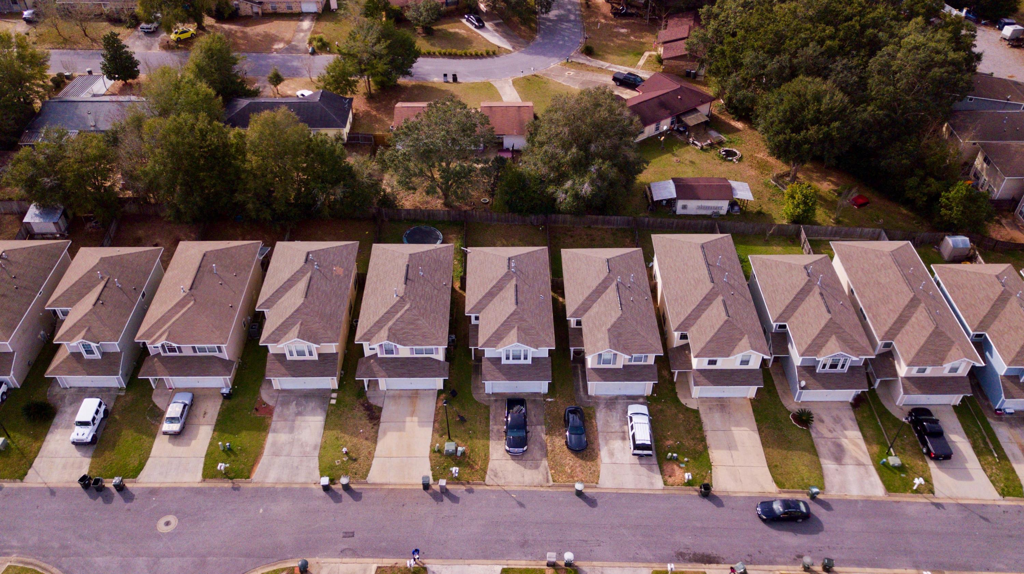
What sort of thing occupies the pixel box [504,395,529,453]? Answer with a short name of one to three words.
truck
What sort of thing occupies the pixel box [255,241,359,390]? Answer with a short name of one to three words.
house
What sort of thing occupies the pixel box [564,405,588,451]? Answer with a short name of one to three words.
car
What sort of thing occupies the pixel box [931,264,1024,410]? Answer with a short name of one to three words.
house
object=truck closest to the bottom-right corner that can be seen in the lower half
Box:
[910,402,960,459]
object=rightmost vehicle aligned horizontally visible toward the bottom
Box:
[754,494,815,522]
